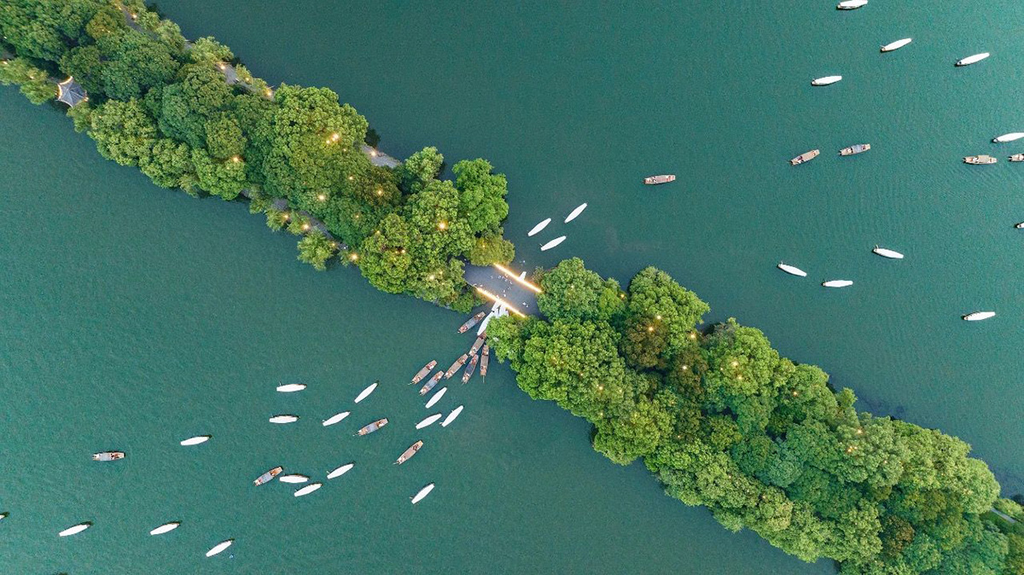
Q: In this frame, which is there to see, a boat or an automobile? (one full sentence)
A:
It is a boat that can be seen here.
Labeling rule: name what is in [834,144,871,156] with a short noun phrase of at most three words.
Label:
boat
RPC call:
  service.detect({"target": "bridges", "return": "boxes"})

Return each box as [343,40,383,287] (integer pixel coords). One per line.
[464,258,548,322]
